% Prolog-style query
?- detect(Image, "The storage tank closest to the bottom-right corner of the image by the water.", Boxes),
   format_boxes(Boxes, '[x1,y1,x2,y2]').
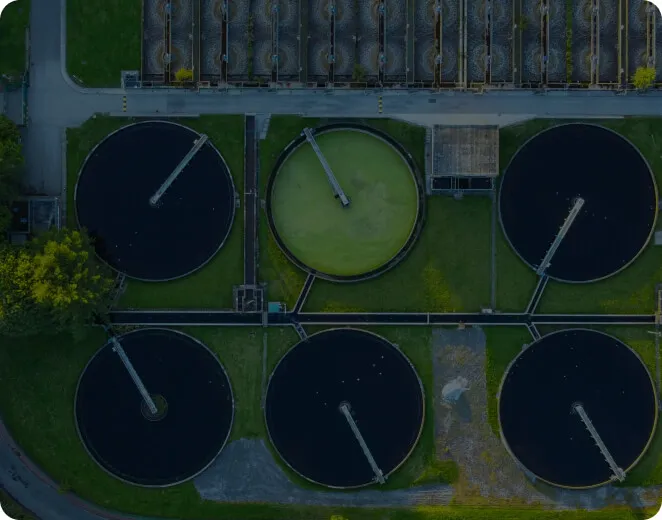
[497,328,658,488]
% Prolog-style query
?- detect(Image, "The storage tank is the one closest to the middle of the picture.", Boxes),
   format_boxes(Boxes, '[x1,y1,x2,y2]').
[265,122,425,283]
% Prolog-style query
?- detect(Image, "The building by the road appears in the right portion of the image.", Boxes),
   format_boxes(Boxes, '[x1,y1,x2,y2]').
[431,125,499,177]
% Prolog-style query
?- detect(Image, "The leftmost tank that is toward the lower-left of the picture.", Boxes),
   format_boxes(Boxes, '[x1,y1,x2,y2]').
[74,328,234,488]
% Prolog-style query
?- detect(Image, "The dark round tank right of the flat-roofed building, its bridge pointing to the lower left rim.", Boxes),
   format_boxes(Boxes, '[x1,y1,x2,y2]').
[497,124,659,283]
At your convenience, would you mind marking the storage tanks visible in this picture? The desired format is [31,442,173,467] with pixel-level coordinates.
[265,328,425,488]
[74,328,234,488]
[75,121,237,281]
[265,122,425,283]
[497,328,658,488]
[497,124,659,283]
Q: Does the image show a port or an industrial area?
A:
industrial area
